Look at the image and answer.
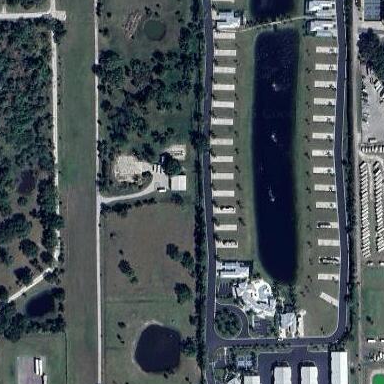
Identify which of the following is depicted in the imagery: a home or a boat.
home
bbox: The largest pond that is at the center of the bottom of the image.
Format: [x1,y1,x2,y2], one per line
[135,323,181,372]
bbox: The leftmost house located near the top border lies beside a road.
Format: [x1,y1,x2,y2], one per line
[216,11,244,28]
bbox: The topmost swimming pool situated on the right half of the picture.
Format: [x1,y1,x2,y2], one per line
[258,283,272,301]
